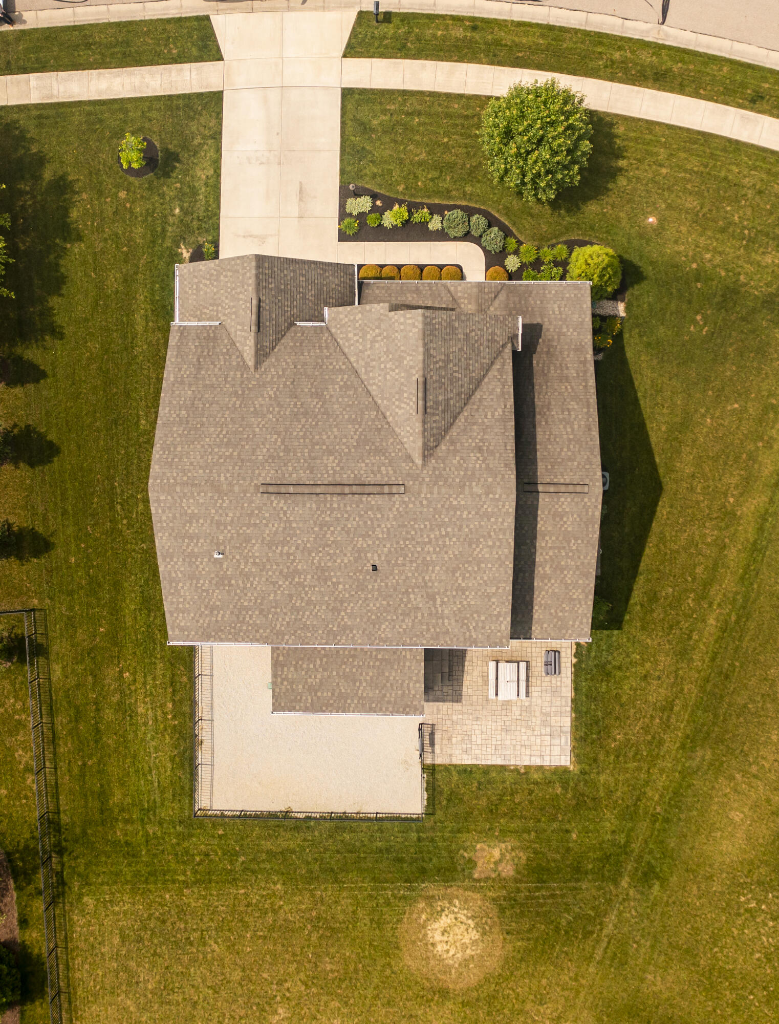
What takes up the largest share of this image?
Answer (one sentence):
The largest share of the image is taken up by grass.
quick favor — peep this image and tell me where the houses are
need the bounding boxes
[150,254,602,716]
